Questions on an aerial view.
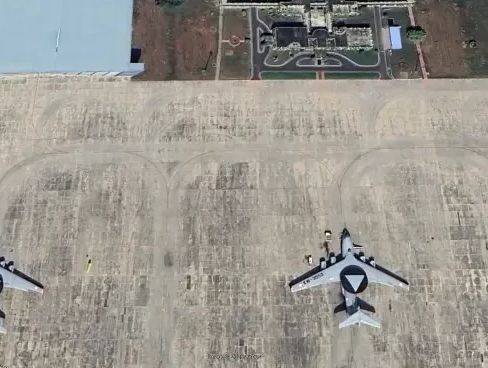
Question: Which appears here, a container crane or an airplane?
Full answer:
There is an airplane in the scene.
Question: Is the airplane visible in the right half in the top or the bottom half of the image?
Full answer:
Seen from above, the airplane visible in the right half lies in the bottom half of the view.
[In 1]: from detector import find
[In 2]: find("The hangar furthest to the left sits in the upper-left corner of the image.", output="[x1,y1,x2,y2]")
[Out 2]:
[0,0,146,77]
